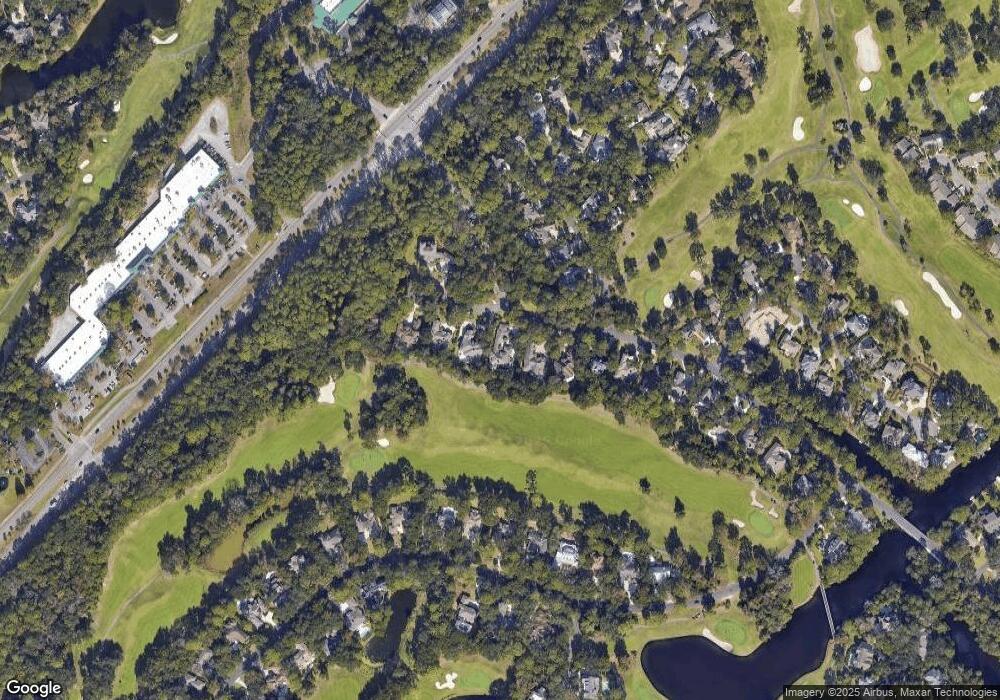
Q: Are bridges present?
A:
Yes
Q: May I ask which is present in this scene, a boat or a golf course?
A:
golf course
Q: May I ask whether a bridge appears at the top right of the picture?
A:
No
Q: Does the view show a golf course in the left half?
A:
Yes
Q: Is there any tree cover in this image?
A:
Yes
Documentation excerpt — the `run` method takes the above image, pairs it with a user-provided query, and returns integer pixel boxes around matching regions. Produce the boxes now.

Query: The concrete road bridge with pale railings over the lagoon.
[888,509,941,556]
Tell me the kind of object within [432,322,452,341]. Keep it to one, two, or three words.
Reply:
house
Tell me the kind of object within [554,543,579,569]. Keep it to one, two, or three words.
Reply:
house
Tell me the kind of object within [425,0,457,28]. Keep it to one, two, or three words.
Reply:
building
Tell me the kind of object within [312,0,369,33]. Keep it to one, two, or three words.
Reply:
building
